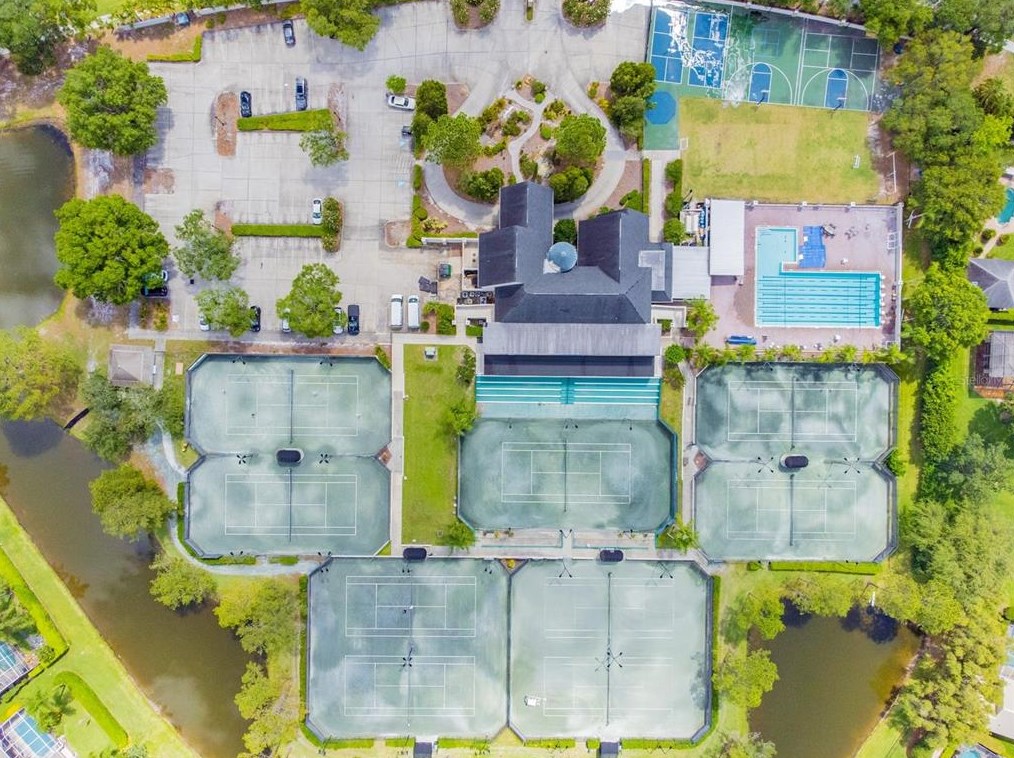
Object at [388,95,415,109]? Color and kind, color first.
white vehicle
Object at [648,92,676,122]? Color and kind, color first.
blue sports court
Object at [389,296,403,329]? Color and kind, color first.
white vehicle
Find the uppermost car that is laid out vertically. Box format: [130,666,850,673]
[282,20,296,47]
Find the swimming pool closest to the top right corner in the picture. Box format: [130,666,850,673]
[988,188,1014,233]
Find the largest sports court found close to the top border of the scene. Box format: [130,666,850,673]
[646,2,878,151]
